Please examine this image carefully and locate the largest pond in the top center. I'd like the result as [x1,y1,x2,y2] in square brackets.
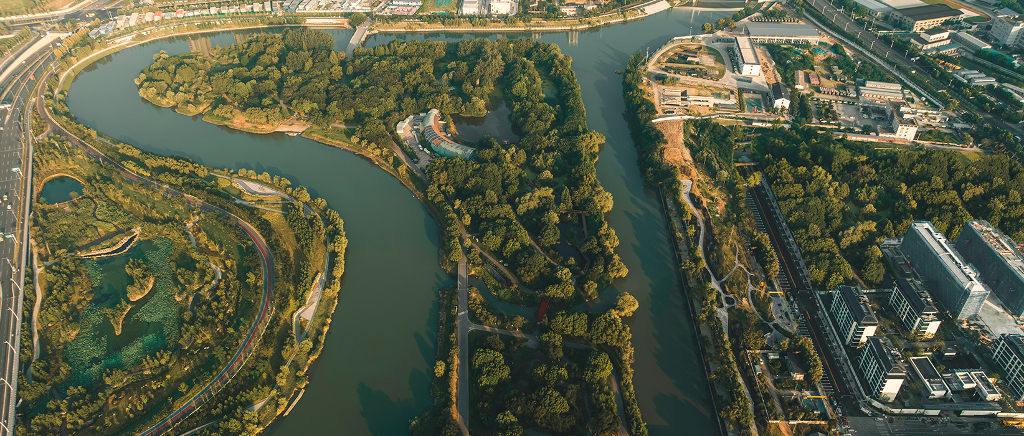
[455,90,520,142]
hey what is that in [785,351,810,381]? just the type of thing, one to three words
house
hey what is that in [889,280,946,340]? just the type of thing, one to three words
building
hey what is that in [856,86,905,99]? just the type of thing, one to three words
shed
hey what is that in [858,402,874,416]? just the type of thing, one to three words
vehicle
